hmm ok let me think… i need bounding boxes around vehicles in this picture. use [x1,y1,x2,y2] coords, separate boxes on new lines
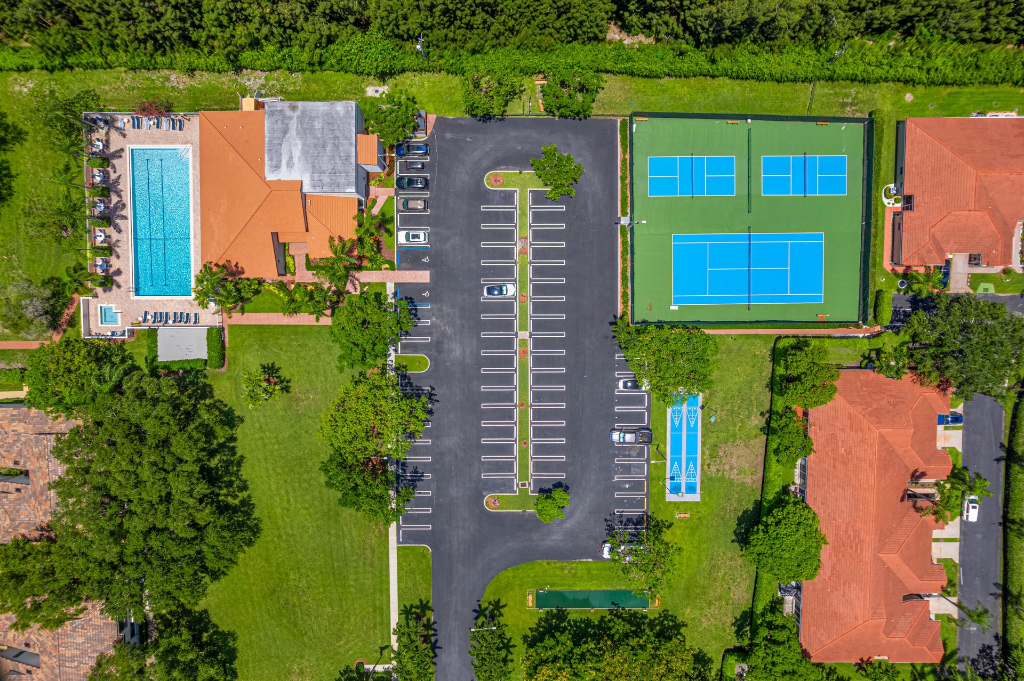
[937,412,967,426]
[938,260,954,289]
[397,142,429,158]
[398,230,429,245]
[484,283,515,298]
[958,493,978,525]
[397,175,429,190]
[406,160,425,172]
[601,543,640,560]
[618,377,648,392]
[611,429,652,445]
[398,197,427,212]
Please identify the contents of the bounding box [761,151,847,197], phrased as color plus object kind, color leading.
blue sports court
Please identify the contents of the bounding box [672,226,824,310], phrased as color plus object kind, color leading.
blue tennis court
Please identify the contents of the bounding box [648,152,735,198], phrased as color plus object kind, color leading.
blue sports court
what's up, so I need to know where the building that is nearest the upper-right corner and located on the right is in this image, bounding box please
[886,116,1024,267]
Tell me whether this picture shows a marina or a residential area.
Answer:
residential area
